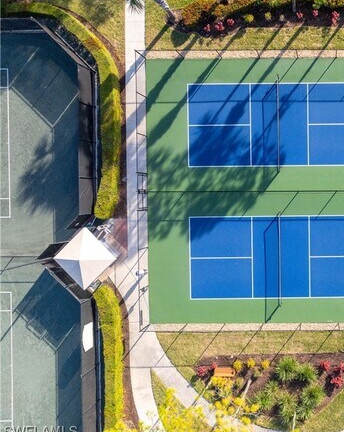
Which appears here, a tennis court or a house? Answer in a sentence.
Looking from above, you can make out a tennis court.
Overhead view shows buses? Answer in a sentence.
No, the scene contains no bus.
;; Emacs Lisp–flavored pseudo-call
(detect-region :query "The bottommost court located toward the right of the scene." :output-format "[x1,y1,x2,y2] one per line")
[147,191,344,324]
